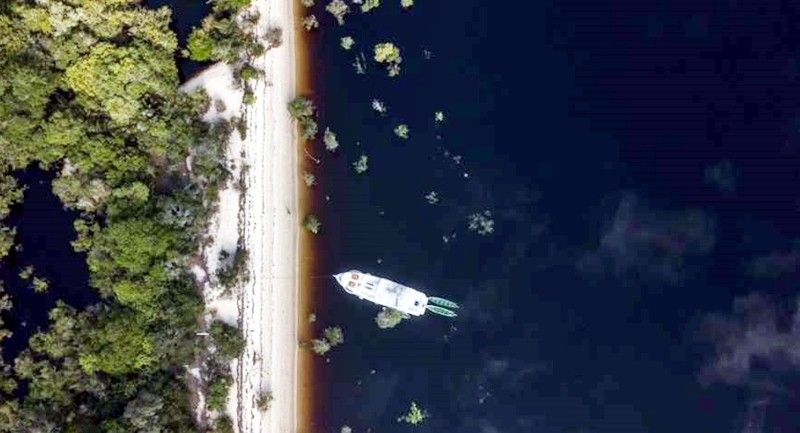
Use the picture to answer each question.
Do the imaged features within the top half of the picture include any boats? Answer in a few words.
No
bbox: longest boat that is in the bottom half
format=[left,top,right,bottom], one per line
[332,272,427,317]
